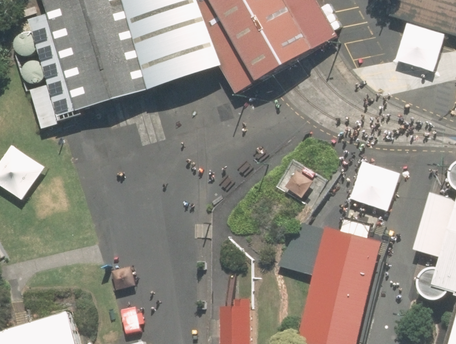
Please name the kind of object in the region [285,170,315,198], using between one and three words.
building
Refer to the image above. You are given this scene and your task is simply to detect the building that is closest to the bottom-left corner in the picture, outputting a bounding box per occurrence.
[0,311,74,344]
